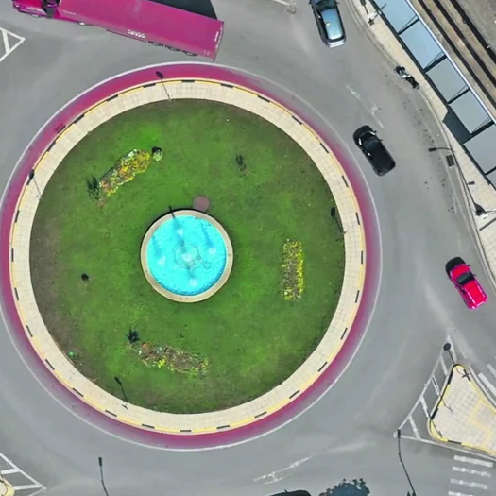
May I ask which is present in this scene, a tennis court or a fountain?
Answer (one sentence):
It is a fountain that can be seen here.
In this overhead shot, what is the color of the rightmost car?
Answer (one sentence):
The color of the rightmost car is red.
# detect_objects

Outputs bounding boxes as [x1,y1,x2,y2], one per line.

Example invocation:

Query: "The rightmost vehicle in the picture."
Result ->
[450,261,490,311]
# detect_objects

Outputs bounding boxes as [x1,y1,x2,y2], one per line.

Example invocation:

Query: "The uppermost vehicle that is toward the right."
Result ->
[309,0,346,48]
